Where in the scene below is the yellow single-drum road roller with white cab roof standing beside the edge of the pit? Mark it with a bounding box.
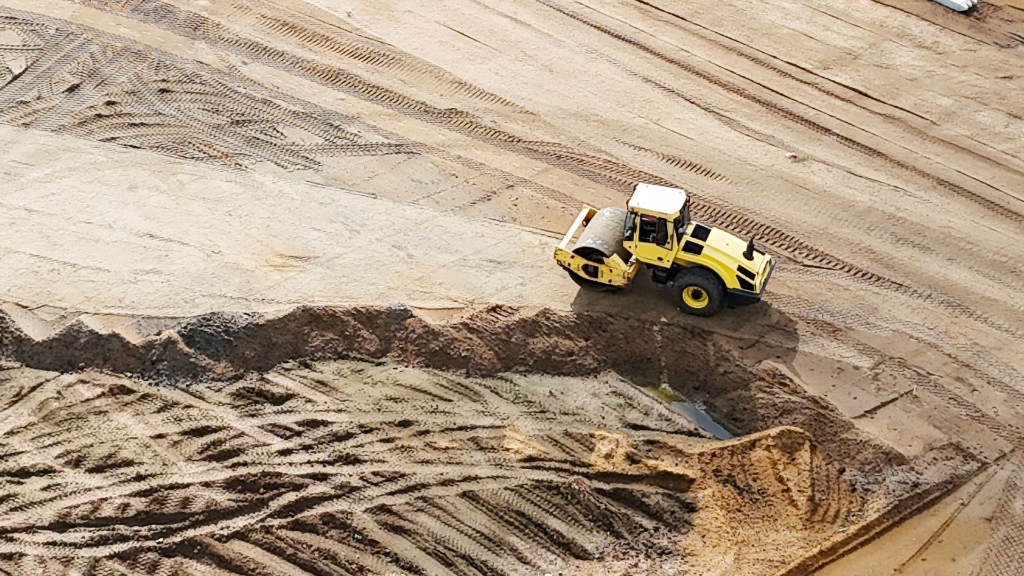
[553,180,776,318]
